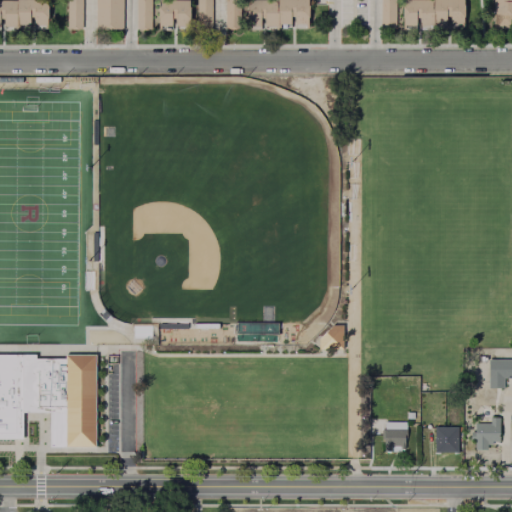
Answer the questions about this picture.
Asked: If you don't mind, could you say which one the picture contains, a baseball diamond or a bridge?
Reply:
baseball diamond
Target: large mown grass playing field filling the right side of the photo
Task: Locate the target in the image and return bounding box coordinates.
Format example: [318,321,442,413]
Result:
[361,77,512,392]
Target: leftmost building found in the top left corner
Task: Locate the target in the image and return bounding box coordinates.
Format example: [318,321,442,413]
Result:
[0,0,50,30]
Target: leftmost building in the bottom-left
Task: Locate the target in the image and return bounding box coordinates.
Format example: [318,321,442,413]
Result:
[0,355,68,447]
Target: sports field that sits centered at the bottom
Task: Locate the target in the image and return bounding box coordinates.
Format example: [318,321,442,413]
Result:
[144,354,348,456]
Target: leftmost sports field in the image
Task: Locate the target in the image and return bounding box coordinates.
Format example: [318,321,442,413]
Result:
[0,90,112,344]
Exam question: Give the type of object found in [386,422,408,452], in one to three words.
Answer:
house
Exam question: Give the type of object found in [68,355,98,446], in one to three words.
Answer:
building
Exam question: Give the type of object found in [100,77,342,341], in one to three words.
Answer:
baseball field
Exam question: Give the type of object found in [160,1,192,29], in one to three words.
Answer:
building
